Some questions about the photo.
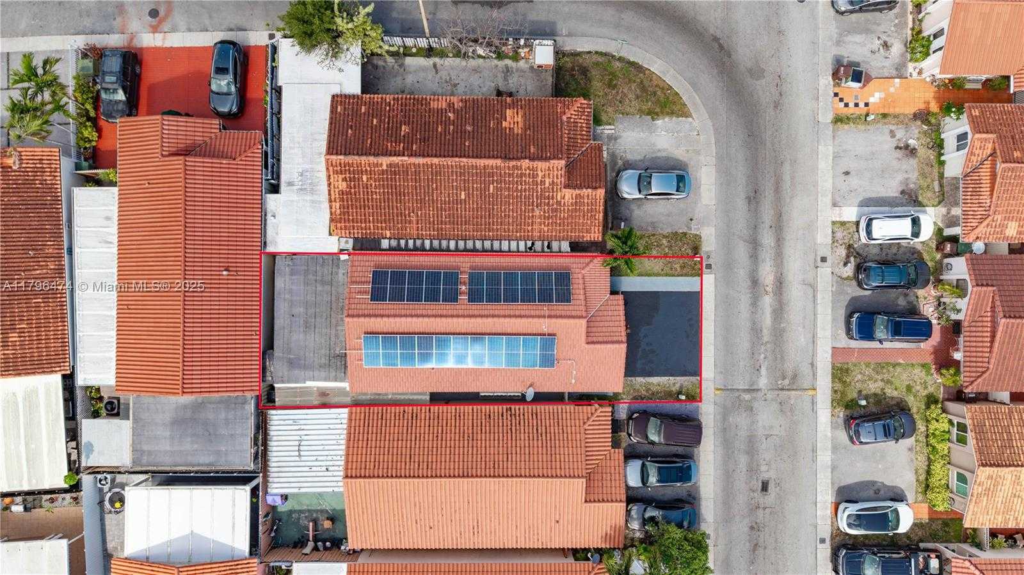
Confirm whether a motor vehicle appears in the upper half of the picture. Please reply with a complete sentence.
Yes, you'll find a motor vehicle in the upper half of the picture.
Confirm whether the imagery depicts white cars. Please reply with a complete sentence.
Yes, there is a white car in the image.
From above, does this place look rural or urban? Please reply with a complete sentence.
It looks urban.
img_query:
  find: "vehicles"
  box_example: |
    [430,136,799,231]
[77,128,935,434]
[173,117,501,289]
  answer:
[835,499,910,538]
[626,498,697,534]
[207,40,249,118]
[843,308,932,346]
[858,210,932,246]
[614,165,690,202]
[832,543,940,575]
[831,0,902,18]
[854,257,928,294]
[844,409,914,447]
[626,456,697,492]
[99,48,142,122]
[625,410,702,447]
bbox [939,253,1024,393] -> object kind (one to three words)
house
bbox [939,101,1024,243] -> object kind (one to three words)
house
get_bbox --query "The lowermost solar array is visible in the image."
[349,335,557,368]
